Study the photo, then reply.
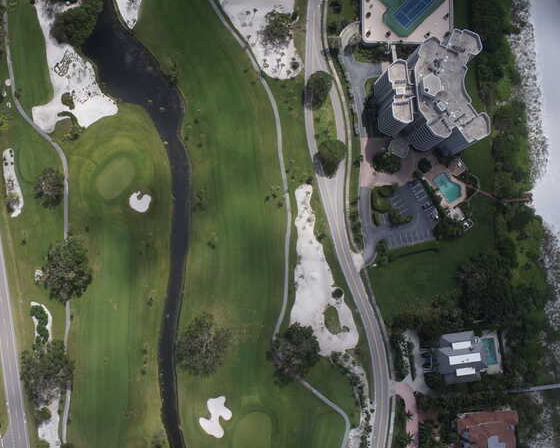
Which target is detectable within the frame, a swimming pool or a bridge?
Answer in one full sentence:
Looking from above, you can make out a swimming pool.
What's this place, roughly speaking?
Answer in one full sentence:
The area seen from above is a golf course.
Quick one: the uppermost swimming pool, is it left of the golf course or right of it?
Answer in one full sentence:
Relative to the golf course, the uppermost swimming pool lies to the right.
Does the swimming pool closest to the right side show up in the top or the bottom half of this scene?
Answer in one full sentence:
The swimming pool closest to the right side is in the bottom half of the image.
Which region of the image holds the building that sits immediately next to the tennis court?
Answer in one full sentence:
The building that sits immediately next to the tennis court is located in the top right region of the scene.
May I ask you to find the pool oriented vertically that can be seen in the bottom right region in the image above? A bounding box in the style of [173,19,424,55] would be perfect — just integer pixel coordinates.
[479,330,502,374]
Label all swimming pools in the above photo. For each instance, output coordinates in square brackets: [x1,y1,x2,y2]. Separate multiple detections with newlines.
[479,330,502,374]
[424,169,465,207]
